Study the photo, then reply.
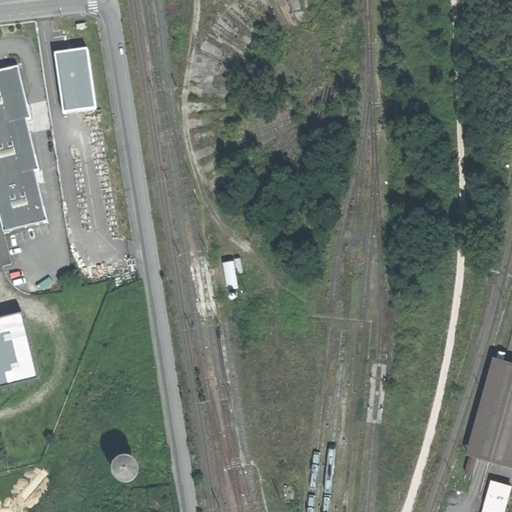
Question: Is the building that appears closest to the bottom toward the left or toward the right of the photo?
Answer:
right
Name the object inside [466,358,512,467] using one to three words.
building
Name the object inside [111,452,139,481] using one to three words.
water tower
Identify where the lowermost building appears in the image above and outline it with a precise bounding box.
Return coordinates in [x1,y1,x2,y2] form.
[481,480,512,512]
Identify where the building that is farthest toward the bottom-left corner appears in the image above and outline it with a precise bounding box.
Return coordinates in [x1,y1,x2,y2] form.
[0,313,37,384]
